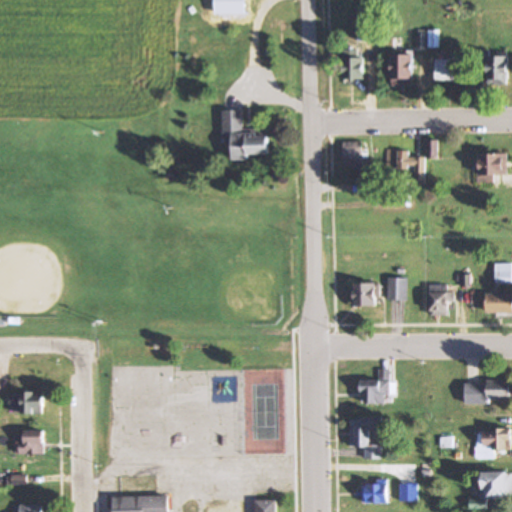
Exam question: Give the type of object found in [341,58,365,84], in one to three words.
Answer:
house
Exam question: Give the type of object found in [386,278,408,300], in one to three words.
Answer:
building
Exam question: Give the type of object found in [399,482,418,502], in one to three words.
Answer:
building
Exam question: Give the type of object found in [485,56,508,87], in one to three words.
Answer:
house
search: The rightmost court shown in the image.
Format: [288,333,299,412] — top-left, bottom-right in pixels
[246,370,284,454]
